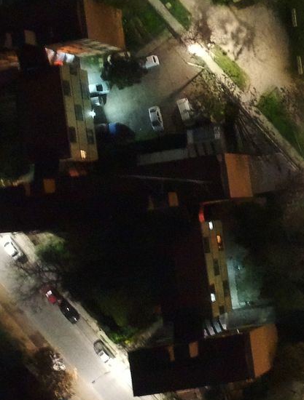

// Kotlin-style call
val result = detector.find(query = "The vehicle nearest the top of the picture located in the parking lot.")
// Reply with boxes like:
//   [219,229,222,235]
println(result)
[135,53,163,69]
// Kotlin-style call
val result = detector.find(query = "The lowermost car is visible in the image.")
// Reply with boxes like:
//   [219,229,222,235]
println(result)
[88,338,114,365]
